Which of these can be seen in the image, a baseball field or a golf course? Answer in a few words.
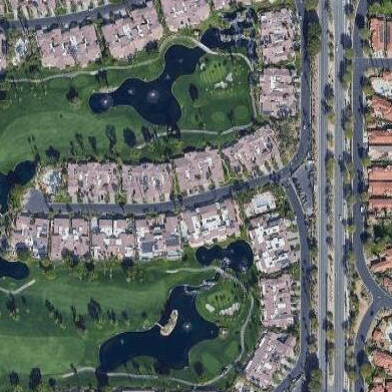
golf course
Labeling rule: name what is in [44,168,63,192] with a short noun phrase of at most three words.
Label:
swimming pool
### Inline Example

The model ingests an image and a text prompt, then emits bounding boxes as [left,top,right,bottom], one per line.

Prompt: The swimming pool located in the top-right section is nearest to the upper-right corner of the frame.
[370,76,391,97]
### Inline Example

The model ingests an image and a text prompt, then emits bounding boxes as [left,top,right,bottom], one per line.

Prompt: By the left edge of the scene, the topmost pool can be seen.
[15,37,31,57]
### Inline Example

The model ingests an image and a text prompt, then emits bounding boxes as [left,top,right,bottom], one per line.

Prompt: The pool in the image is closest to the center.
[250,192,277,213]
